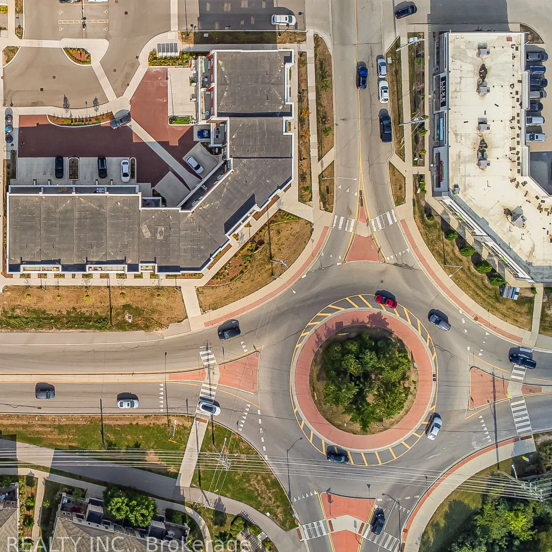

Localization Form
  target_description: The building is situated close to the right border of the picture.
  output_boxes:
[432,34,552,283]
